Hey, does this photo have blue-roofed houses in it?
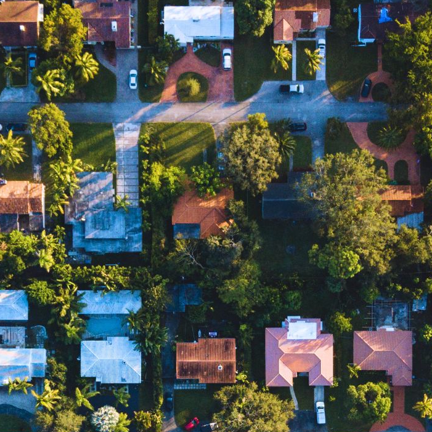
Yes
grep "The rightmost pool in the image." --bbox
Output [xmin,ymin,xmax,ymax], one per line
[83,316,125,335]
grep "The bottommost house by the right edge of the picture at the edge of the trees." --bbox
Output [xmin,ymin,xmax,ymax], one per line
[352,328,412,387]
